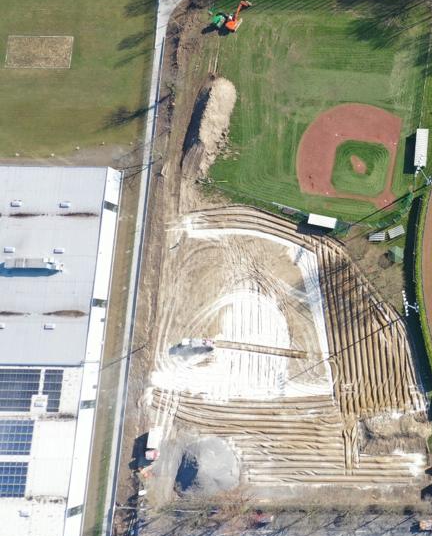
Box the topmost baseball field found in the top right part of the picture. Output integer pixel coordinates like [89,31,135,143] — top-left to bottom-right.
[203,0,432,223]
